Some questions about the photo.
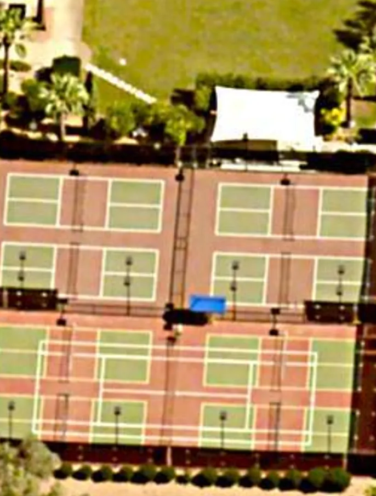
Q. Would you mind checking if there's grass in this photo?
Yes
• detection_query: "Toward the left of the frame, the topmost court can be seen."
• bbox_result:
[3,174,166,231]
